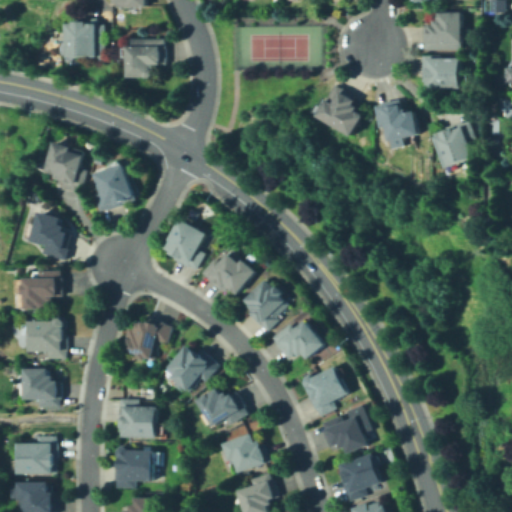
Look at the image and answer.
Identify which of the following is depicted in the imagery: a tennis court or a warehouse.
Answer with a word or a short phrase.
tennis court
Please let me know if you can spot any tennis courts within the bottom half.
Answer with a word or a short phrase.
No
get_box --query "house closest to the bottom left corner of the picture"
[10,482,52,512]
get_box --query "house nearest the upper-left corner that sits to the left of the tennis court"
[60,20,97,60]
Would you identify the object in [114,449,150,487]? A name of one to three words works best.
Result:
house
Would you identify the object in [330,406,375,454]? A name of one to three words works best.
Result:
house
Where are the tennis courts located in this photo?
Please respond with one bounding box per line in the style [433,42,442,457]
[236,26,324,67]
